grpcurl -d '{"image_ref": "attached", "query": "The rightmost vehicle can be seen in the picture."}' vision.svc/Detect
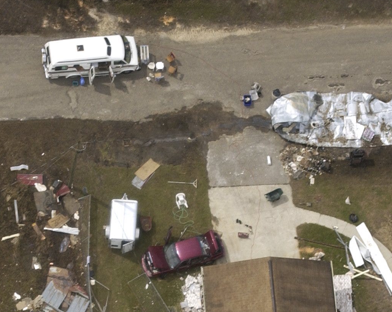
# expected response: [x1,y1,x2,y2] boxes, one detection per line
[138,228,226,282]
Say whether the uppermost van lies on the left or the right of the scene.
left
